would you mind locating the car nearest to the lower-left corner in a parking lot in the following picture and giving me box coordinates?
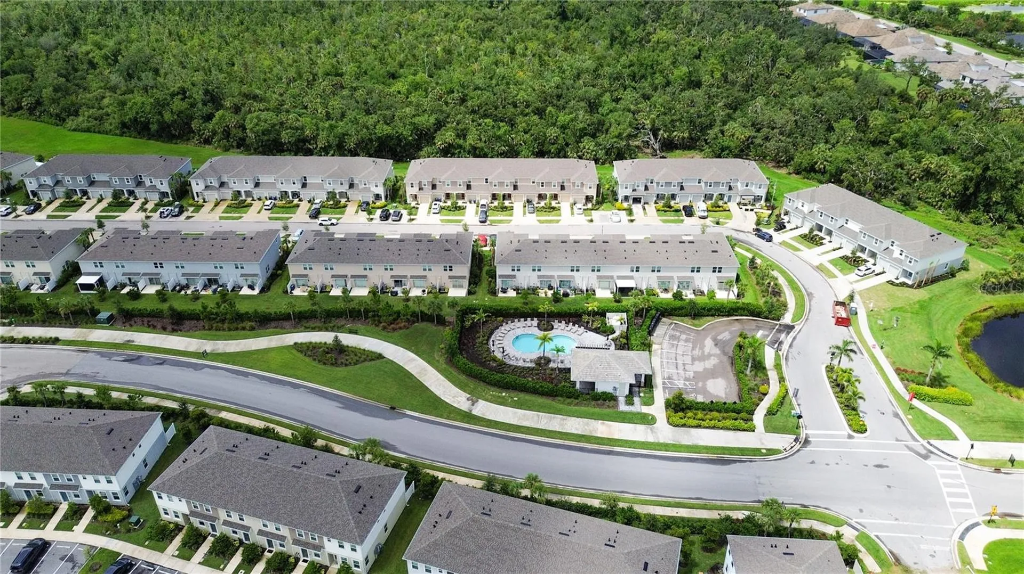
[6,541,49,570]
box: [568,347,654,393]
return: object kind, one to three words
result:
building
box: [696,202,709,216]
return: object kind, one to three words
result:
vehicle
